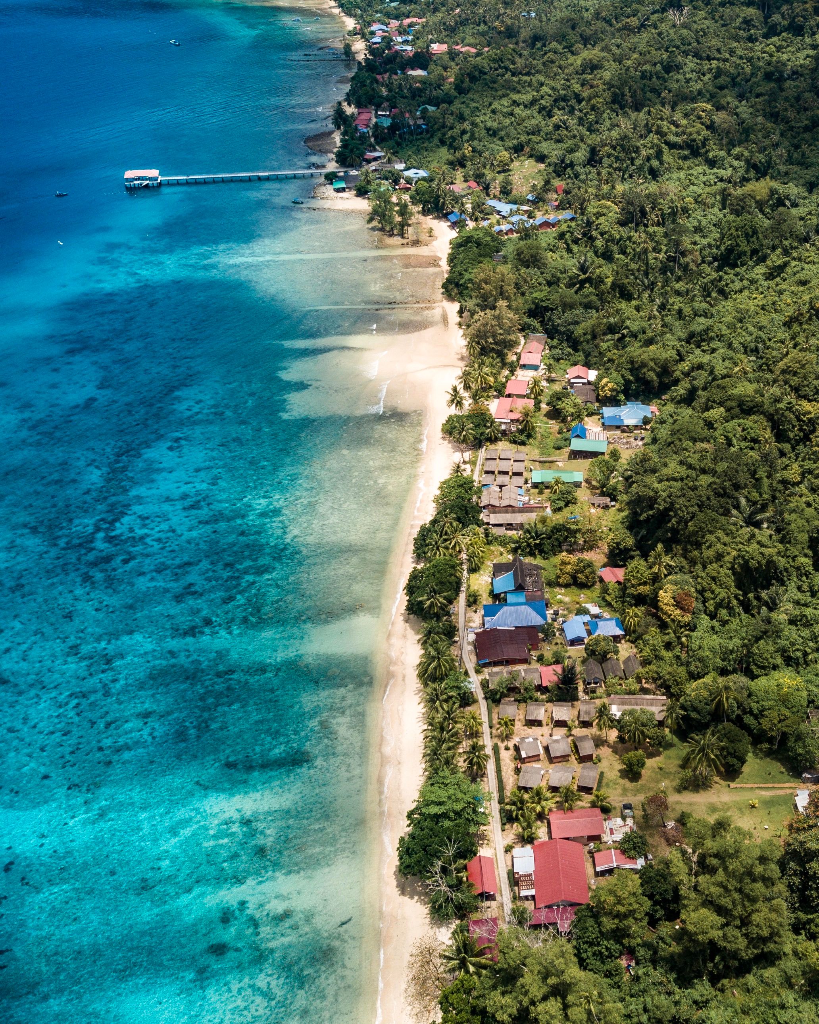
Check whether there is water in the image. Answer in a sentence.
Yes, some water is visible.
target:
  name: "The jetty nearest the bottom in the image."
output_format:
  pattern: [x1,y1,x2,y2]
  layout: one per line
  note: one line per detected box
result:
[160,168,334,185]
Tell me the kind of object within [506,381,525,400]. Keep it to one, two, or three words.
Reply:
house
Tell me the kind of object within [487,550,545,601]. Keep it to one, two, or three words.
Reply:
house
